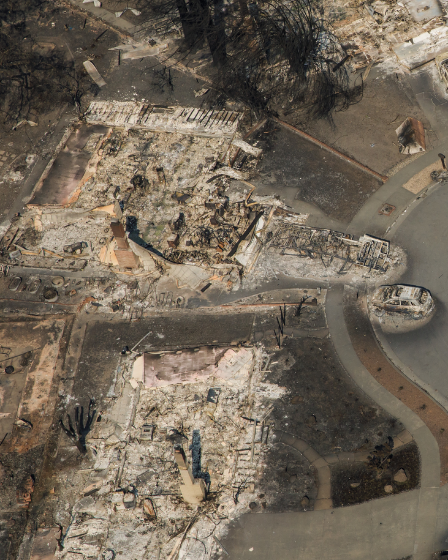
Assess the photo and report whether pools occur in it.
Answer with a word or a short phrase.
No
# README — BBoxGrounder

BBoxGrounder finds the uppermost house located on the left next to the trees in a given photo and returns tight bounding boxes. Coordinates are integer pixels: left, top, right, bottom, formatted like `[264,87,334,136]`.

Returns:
[0,94,293,297]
